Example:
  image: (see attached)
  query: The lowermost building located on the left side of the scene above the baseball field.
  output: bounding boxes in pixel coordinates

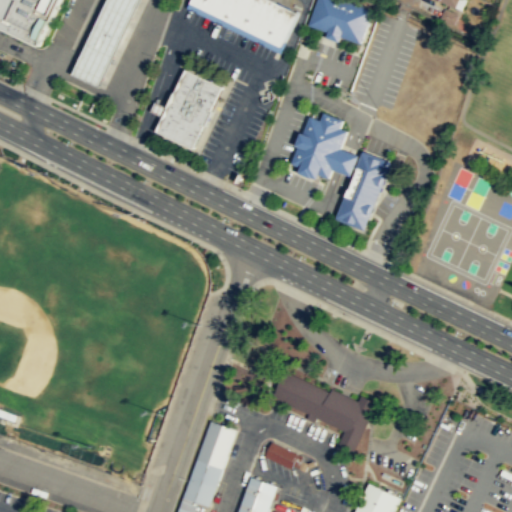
[155,70,227,152]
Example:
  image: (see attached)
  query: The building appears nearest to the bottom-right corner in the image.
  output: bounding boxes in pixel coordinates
[356,484,404,512]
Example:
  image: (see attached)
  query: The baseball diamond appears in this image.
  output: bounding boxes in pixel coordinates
[0,148,210,486]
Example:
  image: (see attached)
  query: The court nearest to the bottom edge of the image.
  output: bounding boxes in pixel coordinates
[412,160,512,310]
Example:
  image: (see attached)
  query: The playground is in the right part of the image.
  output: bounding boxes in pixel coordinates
[470,140,512,177]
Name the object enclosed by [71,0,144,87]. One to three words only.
building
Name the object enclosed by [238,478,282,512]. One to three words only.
shed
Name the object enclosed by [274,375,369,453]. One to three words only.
building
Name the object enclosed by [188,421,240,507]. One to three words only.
shed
